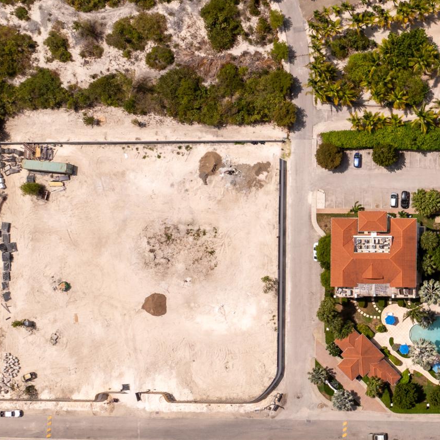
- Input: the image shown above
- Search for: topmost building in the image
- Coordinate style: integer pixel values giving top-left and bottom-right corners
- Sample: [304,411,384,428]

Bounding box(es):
[331,212,419,299]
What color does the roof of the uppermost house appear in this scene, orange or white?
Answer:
orange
